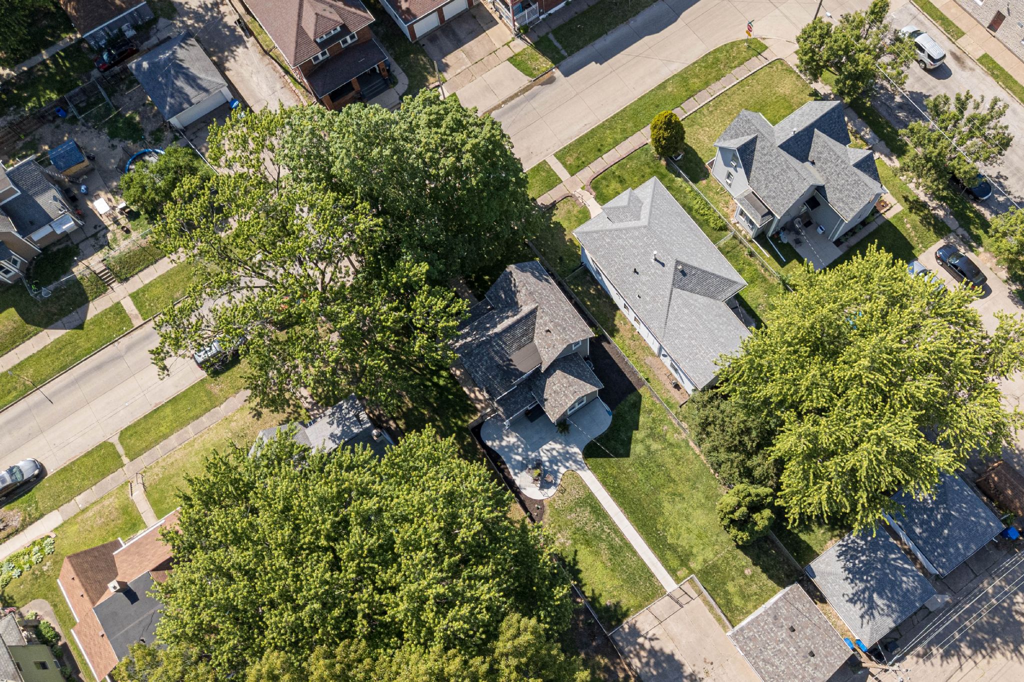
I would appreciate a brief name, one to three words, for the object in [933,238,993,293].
car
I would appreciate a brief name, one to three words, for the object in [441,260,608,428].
house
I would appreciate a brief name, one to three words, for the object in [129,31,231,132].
building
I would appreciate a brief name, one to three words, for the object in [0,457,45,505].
car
